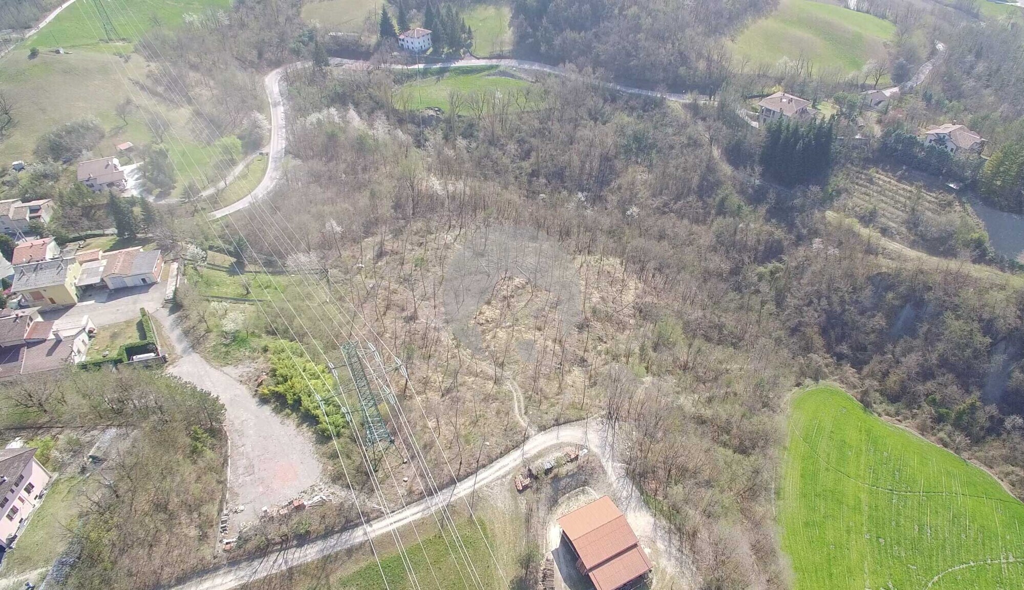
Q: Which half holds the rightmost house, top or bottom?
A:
top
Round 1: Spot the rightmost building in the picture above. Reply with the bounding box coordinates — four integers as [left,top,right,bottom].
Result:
[924,125,989,163]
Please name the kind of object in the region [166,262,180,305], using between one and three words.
shed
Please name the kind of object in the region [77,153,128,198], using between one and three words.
house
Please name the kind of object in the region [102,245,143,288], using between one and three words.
barn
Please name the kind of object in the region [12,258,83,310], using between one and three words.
house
